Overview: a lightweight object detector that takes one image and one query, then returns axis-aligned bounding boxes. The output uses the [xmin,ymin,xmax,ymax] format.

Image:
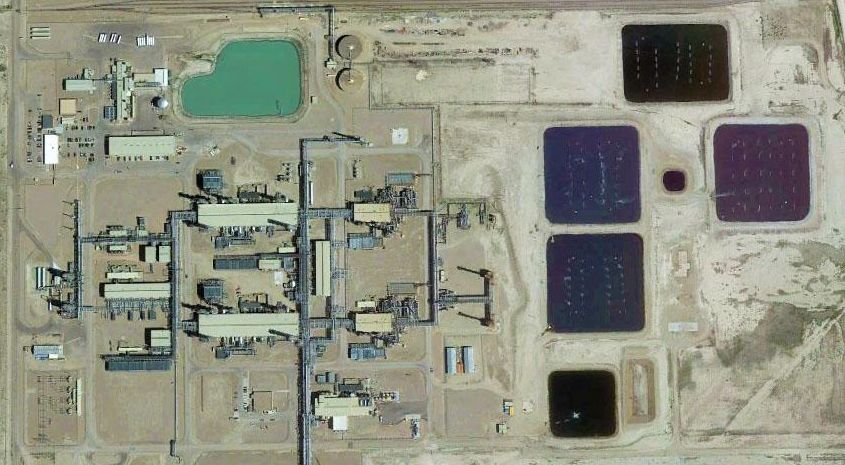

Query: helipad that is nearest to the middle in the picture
[392,129,408,144]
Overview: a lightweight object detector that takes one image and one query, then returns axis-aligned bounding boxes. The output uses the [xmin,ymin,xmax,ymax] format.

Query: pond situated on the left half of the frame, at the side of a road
[177,36,304,121]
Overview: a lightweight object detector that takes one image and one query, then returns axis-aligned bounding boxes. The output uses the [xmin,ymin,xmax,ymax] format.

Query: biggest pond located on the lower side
[543,230,649,336]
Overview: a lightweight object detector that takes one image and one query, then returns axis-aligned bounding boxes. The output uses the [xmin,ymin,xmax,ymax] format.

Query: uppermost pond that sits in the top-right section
[618,20,734,107]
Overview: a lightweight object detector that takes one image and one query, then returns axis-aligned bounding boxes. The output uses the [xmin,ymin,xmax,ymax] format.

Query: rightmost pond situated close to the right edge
[710,120,815,227]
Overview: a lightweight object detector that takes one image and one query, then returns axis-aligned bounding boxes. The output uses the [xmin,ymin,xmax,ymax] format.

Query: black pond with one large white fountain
[544,366,621,442]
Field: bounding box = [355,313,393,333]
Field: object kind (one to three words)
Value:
building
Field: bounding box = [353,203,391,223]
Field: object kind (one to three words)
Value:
building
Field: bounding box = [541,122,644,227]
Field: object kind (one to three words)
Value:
pond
